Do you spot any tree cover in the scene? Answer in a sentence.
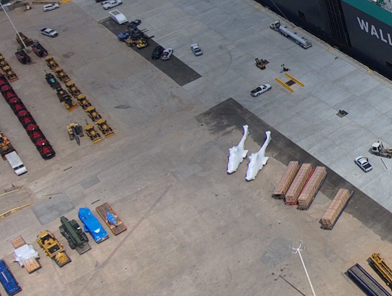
No, there is no tree cover in the image.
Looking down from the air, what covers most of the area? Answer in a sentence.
The largest share of the image is taken up by paved ground.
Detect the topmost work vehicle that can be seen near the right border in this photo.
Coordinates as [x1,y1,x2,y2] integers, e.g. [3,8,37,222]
[371,138,392,156]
